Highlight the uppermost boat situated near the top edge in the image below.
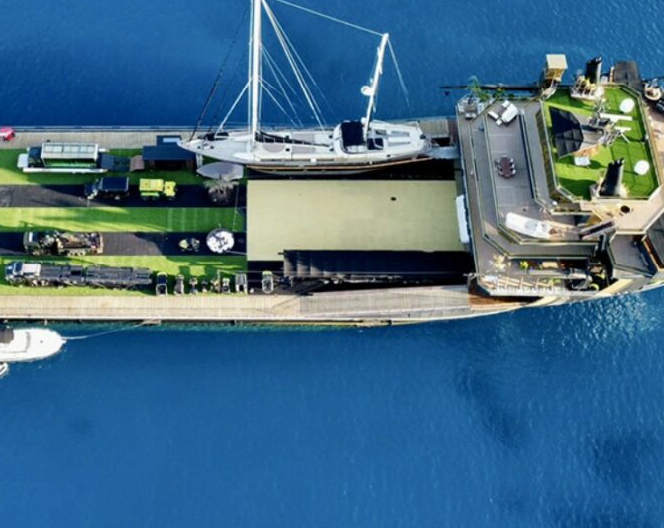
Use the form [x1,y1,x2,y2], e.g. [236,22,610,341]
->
[180,0,431,176]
